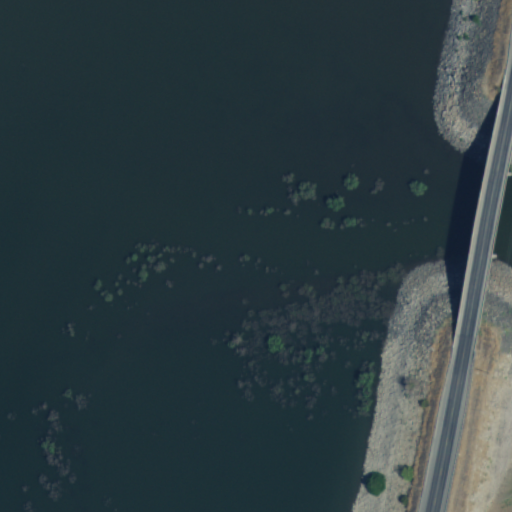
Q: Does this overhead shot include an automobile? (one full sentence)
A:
No, this view has no automobile in it.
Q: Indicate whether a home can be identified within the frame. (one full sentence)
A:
No, the frame has no home in it.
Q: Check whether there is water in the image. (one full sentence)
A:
Yes, there is water in the image.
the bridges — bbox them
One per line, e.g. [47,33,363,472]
[452,90,512,348]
